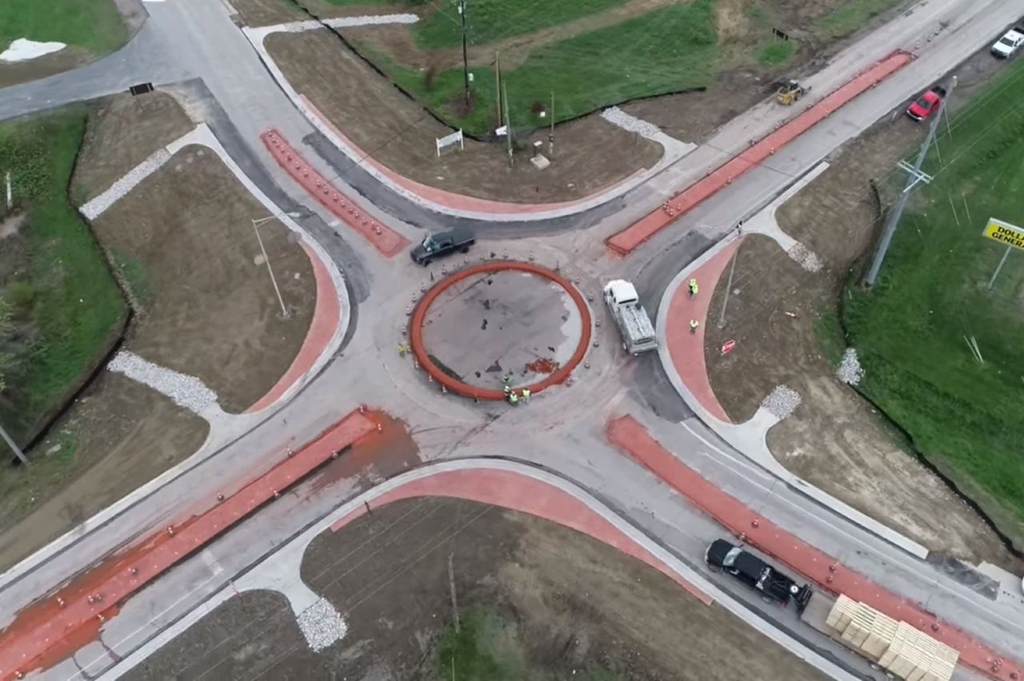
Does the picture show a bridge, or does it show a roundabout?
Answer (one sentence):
Of the two, only a roundabout appears.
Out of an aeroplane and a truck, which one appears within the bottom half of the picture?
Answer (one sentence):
Visible within the bottom half of the picture is a truck.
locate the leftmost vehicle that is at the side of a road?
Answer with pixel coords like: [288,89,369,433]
[408,224,480,266]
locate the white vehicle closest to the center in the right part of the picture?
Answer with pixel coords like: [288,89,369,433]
[597,278,660,355]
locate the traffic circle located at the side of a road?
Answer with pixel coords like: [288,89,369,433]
[339,219,662,461]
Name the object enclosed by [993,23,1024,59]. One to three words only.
truck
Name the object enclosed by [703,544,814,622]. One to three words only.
truck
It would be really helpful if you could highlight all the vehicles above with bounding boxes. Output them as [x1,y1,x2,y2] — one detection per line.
[993,23,1024,59]
[408,224,480,266]
[597,278,660,355]
[703,544,814,622]
[779,78,812,107]
[907,86,954,125]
